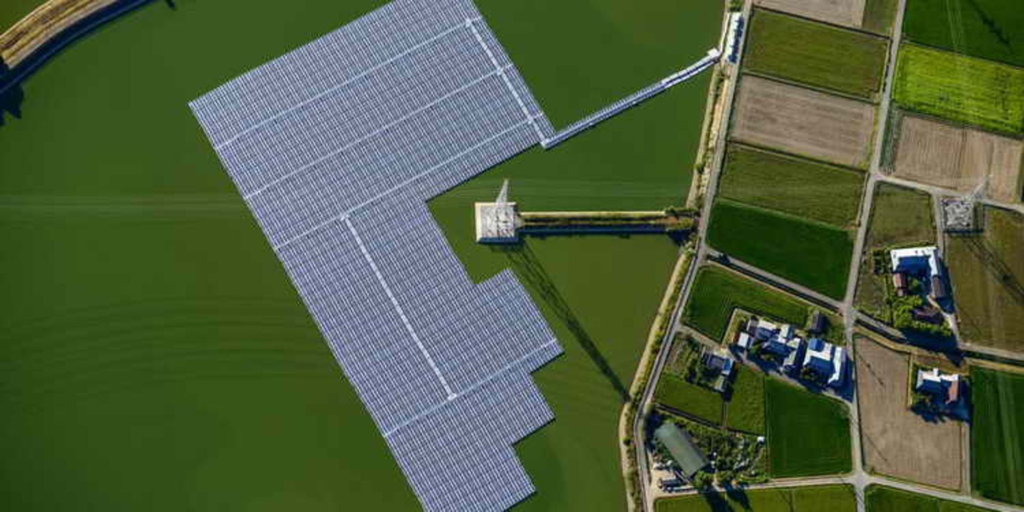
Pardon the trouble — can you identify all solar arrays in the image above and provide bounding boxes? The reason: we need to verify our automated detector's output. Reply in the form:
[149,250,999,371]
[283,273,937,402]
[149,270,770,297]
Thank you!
[187,0,563,512]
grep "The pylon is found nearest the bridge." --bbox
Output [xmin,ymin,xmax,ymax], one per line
[479,179,516,239]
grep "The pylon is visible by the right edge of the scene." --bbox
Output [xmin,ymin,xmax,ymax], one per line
[941,178,993,232]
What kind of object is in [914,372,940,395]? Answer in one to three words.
house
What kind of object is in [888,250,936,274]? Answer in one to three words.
house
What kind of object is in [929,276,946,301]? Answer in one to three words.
barn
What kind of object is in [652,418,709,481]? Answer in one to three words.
shed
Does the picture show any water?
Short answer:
Yes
